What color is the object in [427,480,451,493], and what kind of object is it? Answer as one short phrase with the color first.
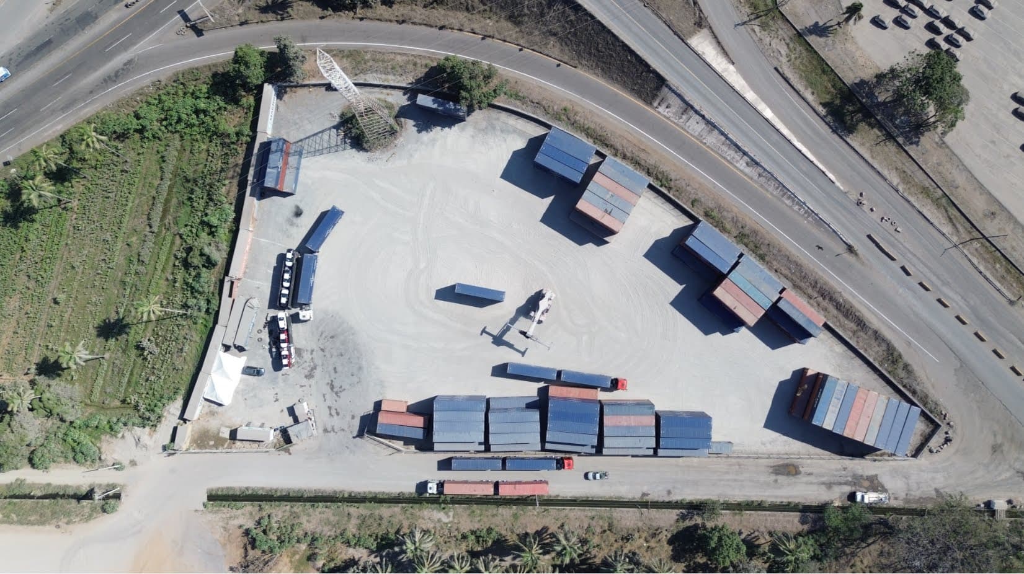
white vehicle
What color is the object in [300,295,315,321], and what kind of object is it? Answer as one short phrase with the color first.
white vehicle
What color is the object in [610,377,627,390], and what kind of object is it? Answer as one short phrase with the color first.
red vehicle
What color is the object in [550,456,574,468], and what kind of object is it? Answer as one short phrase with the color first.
red vehicle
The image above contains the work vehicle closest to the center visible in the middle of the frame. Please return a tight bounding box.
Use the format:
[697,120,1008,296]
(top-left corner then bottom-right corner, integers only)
[508,286,557,347]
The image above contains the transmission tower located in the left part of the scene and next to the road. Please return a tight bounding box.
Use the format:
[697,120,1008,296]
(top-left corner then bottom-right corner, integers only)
[319,48,398,140]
